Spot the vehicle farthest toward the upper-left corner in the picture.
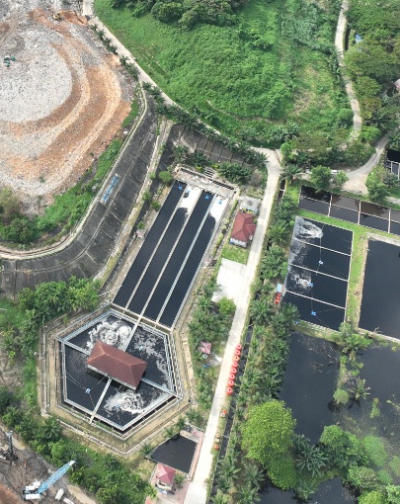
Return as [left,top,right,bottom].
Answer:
[51,5,82,19]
